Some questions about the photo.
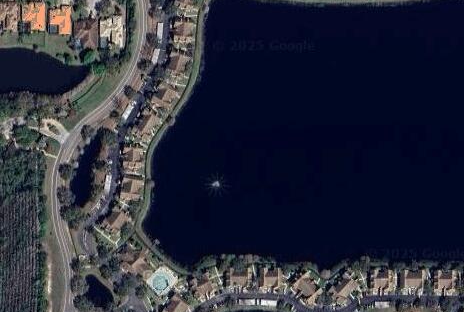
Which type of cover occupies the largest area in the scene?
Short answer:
water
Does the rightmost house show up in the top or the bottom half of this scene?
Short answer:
bottom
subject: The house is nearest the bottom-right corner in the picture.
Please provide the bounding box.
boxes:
[434,269,457,295]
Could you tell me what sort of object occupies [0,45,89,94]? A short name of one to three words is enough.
pond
